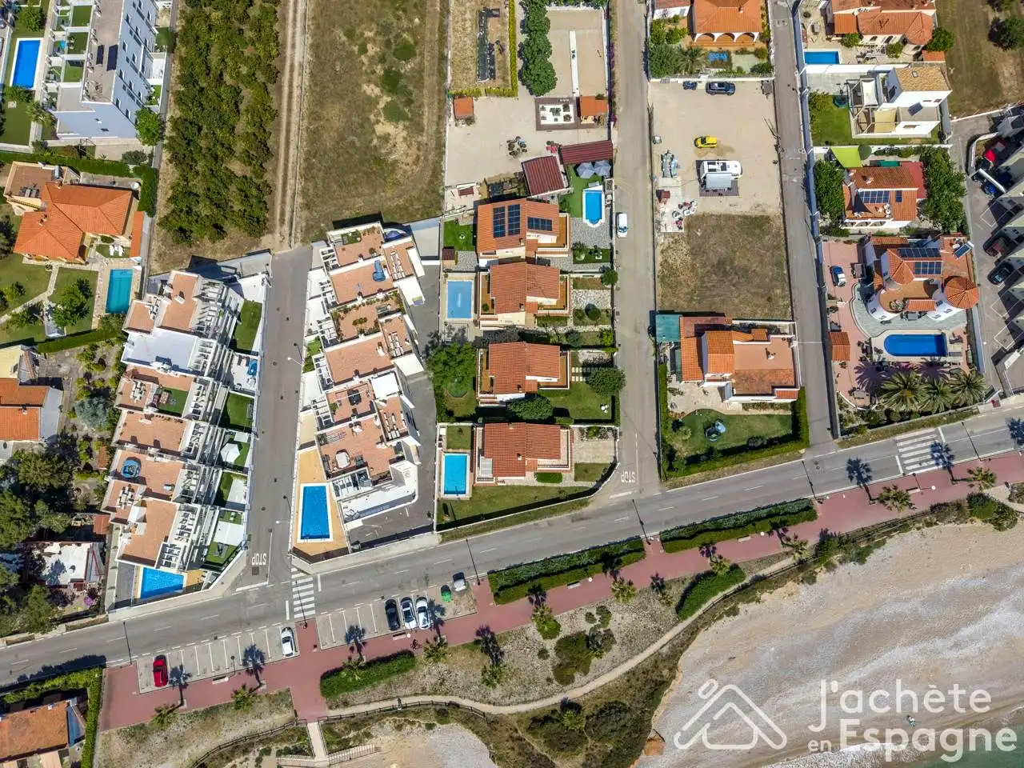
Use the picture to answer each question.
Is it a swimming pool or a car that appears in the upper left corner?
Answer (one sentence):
The one visible in the upper left corner is a swimming pool.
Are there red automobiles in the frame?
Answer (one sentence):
Yes, a red automobile can be made out from above.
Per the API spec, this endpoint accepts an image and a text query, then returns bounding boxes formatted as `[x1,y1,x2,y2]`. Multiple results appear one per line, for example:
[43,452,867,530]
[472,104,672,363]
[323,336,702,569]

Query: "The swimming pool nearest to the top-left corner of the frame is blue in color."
[10,37,43,90]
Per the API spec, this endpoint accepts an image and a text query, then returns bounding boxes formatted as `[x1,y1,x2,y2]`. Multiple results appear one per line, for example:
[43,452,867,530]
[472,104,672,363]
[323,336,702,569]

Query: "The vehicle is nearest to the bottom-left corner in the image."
[149,656,168,691]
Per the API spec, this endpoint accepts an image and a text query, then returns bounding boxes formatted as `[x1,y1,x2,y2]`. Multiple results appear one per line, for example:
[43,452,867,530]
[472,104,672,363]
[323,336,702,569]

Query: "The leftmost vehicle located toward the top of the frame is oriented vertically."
[615,208,630,239]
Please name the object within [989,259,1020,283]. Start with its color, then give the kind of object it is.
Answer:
black car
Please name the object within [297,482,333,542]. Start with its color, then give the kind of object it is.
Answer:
blue swimming pool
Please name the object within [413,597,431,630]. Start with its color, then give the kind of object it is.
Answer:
white car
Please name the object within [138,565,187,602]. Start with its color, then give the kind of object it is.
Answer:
blue swimming pool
